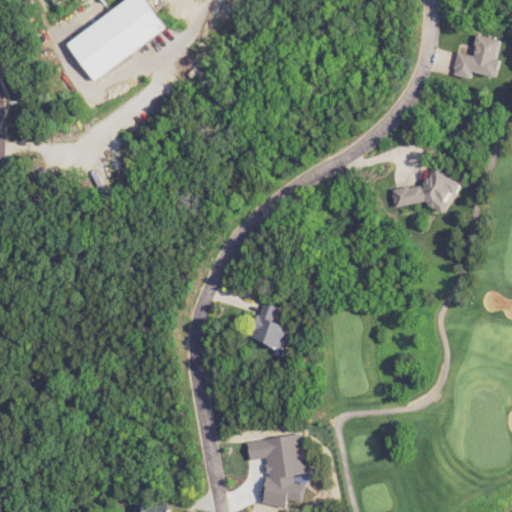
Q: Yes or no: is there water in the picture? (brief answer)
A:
No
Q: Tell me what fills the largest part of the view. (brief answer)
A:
trees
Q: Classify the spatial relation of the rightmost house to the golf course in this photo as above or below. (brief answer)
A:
above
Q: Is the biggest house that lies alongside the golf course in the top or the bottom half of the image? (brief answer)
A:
bottom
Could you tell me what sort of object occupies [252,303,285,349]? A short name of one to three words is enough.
house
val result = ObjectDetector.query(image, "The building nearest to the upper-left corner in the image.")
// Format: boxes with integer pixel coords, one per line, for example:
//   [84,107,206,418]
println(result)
[66,0,165,80]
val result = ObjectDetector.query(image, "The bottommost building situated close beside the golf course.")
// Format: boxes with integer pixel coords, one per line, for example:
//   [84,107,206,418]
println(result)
[247,433,306,508]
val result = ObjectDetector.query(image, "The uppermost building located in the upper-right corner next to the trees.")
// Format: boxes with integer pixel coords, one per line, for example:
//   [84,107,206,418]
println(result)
[454,33,504,78]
